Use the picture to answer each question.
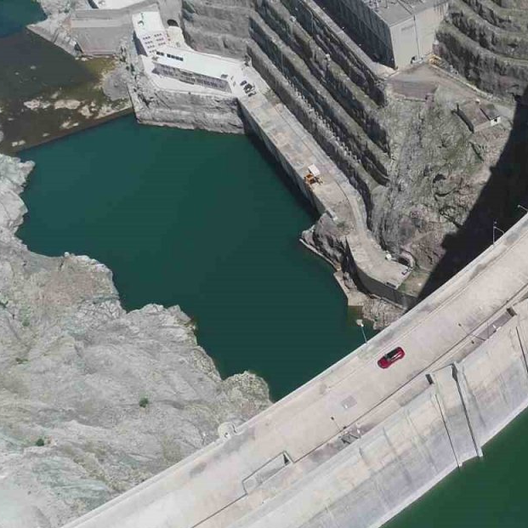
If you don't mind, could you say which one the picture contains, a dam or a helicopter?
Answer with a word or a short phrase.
dam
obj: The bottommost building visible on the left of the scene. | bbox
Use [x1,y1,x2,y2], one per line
[146,44,244,93]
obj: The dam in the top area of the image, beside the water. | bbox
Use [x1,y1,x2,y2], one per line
[17,112,130,156]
